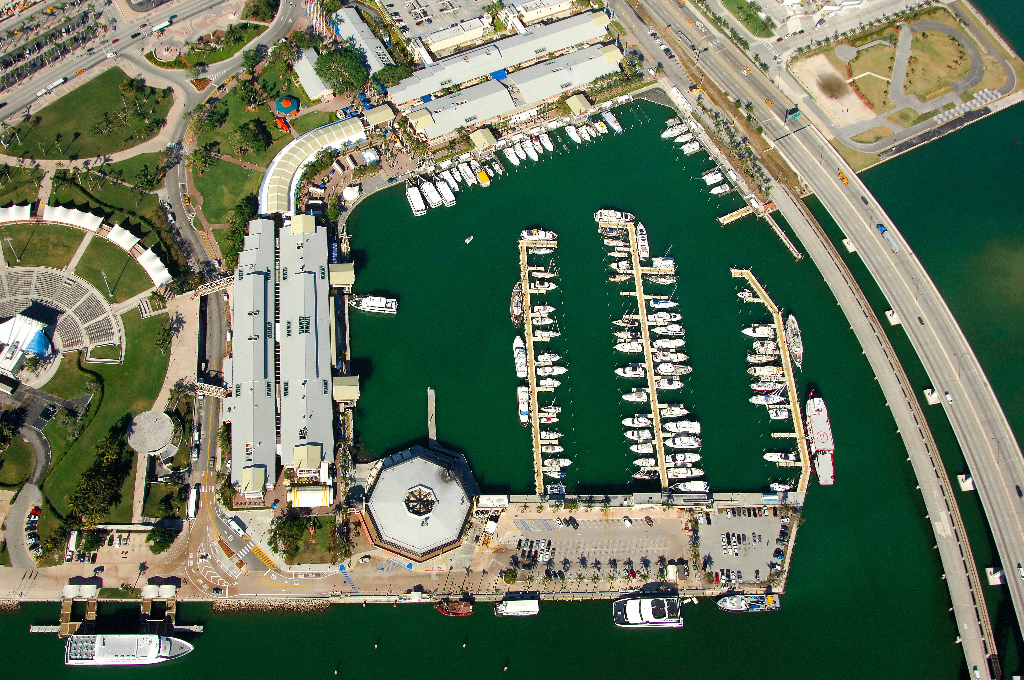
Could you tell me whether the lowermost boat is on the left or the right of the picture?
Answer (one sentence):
You can find the lowermost boat on the left side of the picture.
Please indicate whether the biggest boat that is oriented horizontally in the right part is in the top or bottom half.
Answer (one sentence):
You can find the biggest boat that is oriented horizontally in the right part in the bottom half.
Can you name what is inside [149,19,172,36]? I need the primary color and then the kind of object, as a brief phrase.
white vehicle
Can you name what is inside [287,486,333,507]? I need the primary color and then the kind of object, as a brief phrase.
white tent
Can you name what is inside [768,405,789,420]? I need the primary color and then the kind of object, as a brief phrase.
white boat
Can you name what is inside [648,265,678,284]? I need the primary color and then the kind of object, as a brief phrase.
white boat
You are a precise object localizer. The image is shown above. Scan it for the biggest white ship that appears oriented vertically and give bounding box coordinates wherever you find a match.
[806,388,838,484]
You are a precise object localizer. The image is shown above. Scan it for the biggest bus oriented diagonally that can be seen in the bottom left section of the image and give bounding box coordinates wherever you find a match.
[225,516,248,539]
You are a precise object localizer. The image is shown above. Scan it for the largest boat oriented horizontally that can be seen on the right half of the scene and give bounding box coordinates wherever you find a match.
[614,597,685,626]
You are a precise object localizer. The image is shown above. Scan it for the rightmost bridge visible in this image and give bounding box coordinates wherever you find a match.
[757,80,1024,680]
